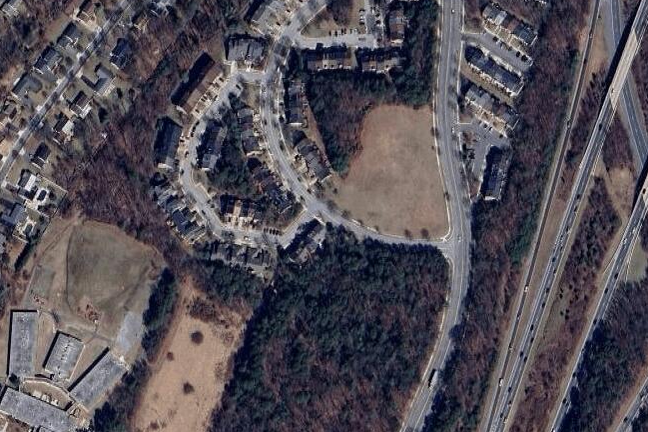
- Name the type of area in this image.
residential area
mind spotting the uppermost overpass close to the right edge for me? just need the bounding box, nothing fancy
[607,28,642,111]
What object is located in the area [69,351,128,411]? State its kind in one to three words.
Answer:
building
